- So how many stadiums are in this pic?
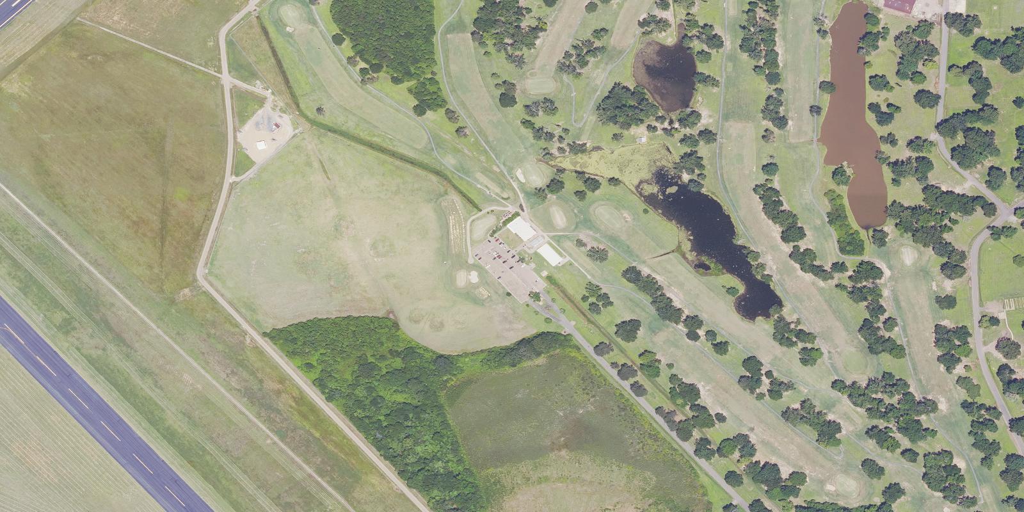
zero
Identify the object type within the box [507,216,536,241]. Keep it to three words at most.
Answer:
building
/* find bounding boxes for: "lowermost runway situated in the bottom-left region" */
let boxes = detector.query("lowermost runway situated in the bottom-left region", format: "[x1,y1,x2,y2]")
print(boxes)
[0,296,213,512]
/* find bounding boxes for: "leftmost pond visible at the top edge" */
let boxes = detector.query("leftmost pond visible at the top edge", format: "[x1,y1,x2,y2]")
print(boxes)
[633,23,697,112]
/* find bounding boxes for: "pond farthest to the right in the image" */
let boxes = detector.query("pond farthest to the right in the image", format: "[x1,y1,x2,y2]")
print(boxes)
[817,1,888,230]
